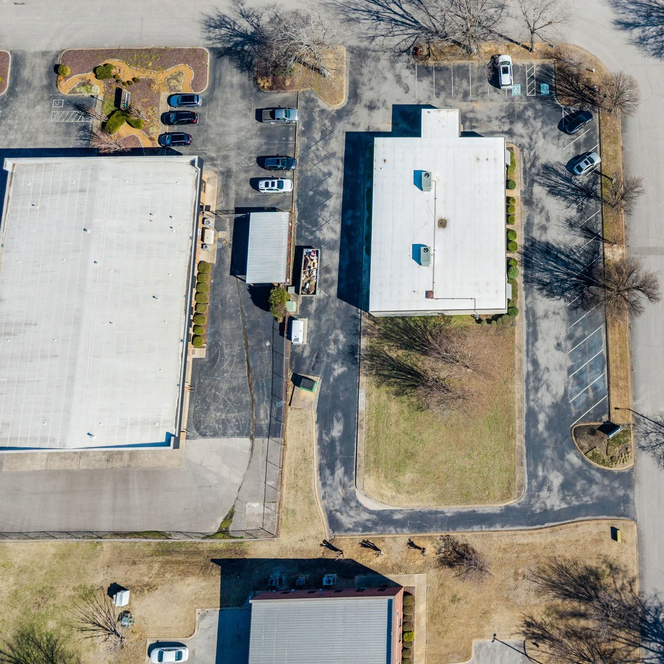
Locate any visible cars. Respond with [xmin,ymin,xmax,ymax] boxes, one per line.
[264,155,298,171]
[151,645,190,664]
[168,92,203,109]
[564,111,594,136]
[163,110,198,126]
[572,153,601,177]
[257,177,295,193]
[158,131,193,147]
[498,57,513,89]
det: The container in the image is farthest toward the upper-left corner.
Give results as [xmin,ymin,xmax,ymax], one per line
[299,248,325,298]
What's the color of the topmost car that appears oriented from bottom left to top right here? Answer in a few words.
black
